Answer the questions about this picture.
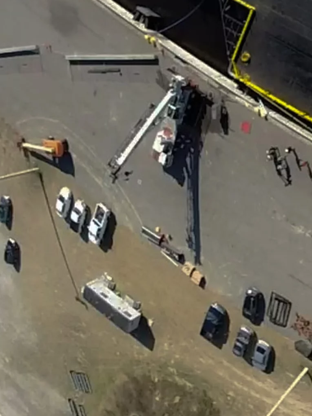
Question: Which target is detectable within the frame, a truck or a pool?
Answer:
truck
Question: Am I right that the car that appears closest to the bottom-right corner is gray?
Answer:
Yes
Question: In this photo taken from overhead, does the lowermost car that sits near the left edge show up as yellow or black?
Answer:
black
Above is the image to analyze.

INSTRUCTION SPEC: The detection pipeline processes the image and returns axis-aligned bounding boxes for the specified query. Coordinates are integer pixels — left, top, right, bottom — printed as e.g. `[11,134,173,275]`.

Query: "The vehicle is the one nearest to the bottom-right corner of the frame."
[251,336,275,371]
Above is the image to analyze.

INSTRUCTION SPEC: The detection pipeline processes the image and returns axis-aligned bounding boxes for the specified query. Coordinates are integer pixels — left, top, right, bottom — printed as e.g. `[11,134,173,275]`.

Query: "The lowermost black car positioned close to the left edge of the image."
[2,236,26,266]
